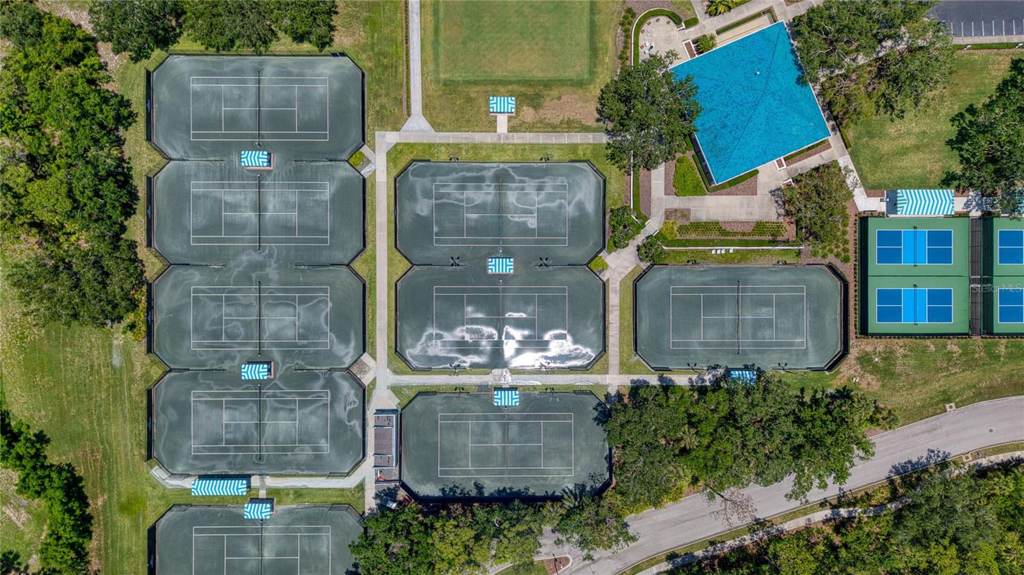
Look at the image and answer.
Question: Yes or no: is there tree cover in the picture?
Yes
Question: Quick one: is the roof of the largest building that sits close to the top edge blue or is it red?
blue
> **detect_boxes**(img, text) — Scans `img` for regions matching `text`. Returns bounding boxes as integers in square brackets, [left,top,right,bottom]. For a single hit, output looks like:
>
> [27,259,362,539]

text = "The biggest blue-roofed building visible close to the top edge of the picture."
[665,20,831,186]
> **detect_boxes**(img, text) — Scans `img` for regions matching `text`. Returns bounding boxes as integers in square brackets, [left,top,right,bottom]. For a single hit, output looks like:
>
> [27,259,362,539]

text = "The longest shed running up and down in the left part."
[370,409,397,469]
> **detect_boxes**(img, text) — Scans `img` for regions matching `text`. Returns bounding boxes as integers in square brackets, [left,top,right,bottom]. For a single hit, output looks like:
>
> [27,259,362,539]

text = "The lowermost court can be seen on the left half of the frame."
[155,505,364,575]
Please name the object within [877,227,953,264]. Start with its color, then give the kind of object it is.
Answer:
blue sports court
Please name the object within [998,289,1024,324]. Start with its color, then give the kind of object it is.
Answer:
blue sports court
